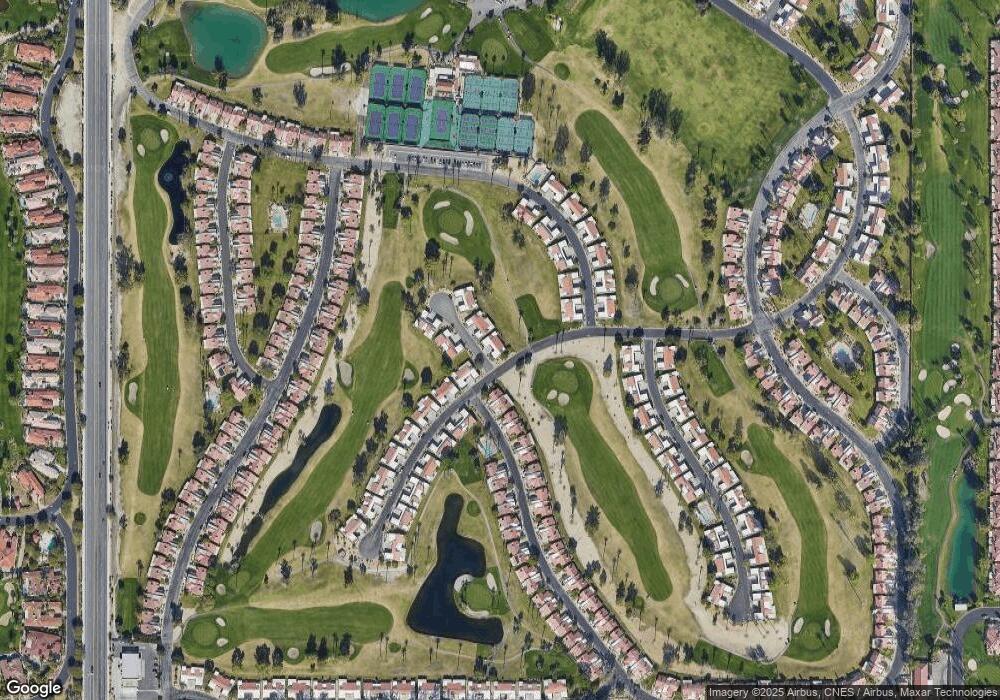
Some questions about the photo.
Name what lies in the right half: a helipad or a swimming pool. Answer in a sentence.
There is a swimming pool in the right half.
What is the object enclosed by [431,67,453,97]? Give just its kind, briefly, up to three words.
building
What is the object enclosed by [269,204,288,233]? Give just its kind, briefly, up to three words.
swimming pool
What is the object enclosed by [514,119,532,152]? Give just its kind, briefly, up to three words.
tennis court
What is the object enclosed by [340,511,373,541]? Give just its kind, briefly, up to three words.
house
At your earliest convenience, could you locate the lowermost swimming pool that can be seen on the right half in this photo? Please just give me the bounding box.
[696,501,718,526]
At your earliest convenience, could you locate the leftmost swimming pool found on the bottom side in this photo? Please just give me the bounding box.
[40,533,57,551]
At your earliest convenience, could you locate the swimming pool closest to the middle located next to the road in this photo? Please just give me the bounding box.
[479,435,498,459]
